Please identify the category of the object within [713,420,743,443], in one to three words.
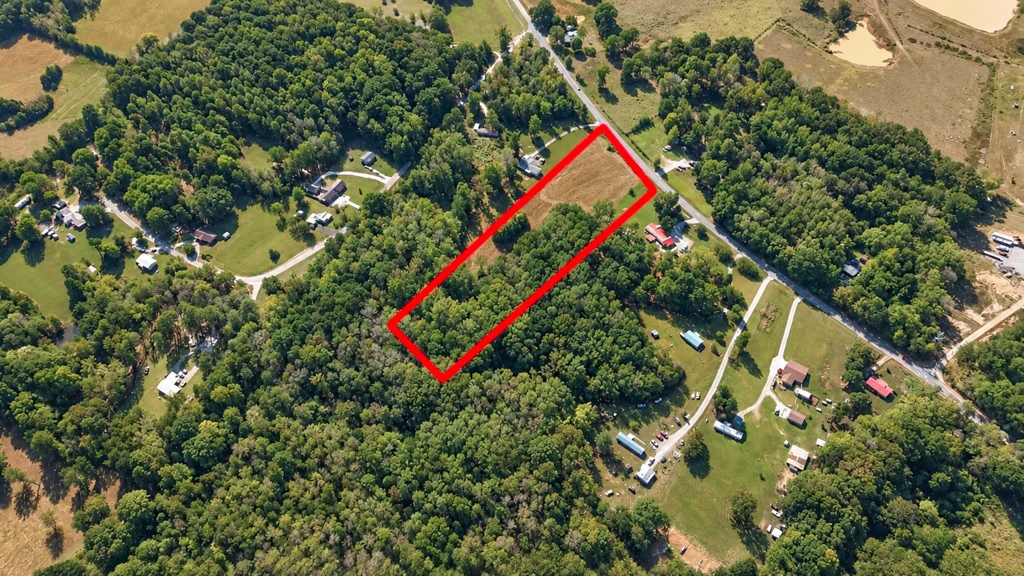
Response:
house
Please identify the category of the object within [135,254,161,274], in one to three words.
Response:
barn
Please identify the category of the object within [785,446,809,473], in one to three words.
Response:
barn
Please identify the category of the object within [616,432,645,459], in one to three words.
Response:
house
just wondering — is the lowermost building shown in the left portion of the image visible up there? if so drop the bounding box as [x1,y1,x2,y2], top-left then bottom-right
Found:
[159,374,184,396]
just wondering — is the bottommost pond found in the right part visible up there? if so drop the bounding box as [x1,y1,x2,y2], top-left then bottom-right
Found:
[829,21,894,66]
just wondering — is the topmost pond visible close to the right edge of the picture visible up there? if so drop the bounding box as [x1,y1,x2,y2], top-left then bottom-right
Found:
[912,0,1019,32]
